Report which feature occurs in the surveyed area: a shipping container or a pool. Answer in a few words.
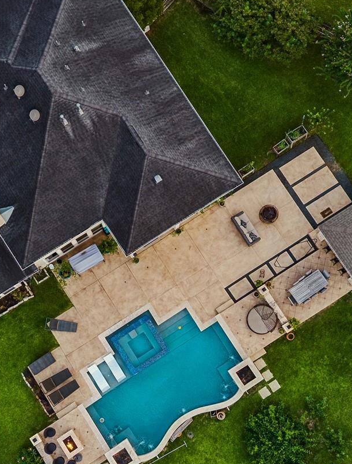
pool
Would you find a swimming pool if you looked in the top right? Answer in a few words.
No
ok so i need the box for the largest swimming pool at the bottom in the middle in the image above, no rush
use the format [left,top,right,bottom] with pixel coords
[78,301,248,461]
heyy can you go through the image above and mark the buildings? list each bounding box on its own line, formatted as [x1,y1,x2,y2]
[313,204,352,288]
[0,0,243,303]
